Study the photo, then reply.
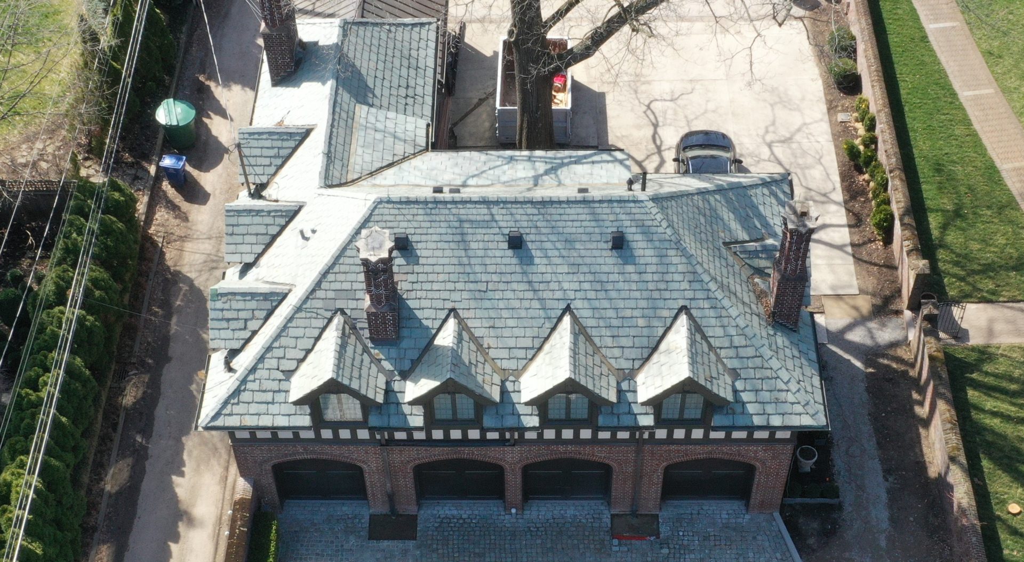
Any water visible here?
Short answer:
No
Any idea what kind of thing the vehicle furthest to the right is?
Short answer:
car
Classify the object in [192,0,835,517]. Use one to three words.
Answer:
house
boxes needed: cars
[674,125,748,173]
